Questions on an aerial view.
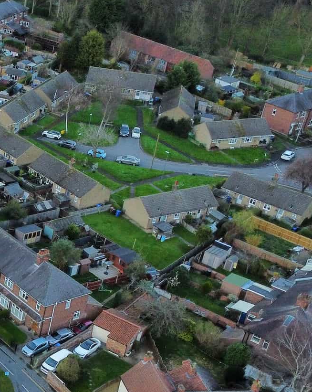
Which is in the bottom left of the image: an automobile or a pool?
automobile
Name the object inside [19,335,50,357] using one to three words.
car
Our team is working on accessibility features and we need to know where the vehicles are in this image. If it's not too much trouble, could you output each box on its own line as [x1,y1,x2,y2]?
[44,348,73,369]
[132,126,141,138]
[120,124,130,135]
[279,149,297,160]
[47,331,69,350]
[19,335,50,357]
[72,338,102,358]
[42,130,63,140]
[116,156,141,167]
[56,139,79,150]
[86,149,108,160]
